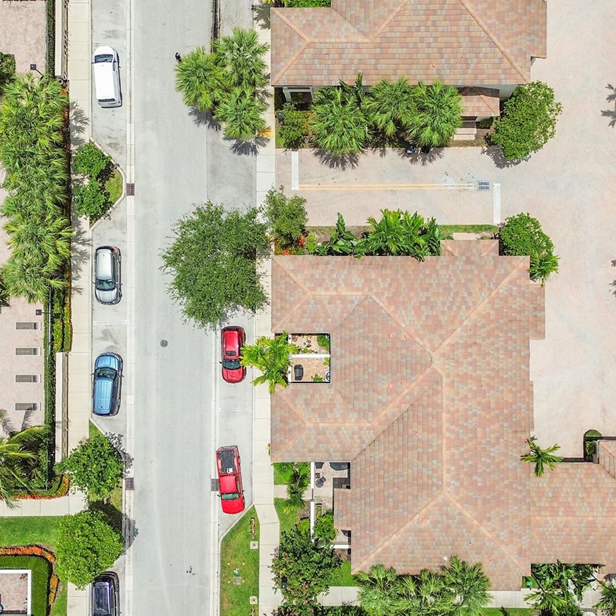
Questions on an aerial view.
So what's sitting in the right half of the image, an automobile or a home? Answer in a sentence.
You can see a home in the right half of the image.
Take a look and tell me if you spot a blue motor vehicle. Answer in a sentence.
Yes, the frame does contain a blue motor vehicle.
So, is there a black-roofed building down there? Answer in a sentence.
No, I find no black-roofed building anywhere in the image.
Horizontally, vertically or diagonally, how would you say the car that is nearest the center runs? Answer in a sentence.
The car that is nearest the center is oriented vertically.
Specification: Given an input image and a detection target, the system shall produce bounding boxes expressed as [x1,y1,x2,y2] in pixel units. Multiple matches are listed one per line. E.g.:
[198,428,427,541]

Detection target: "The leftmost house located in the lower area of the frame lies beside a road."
[270,239,545,592]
